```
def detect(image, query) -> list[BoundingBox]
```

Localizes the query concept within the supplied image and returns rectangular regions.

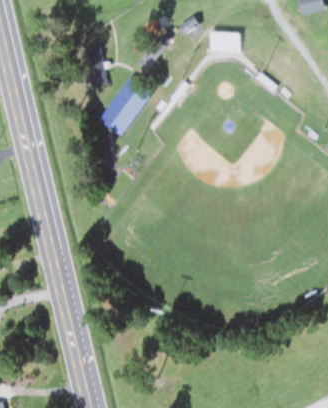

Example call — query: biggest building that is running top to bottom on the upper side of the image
[90,45,112,86]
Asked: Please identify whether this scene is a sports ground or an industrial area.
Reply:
sports ground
